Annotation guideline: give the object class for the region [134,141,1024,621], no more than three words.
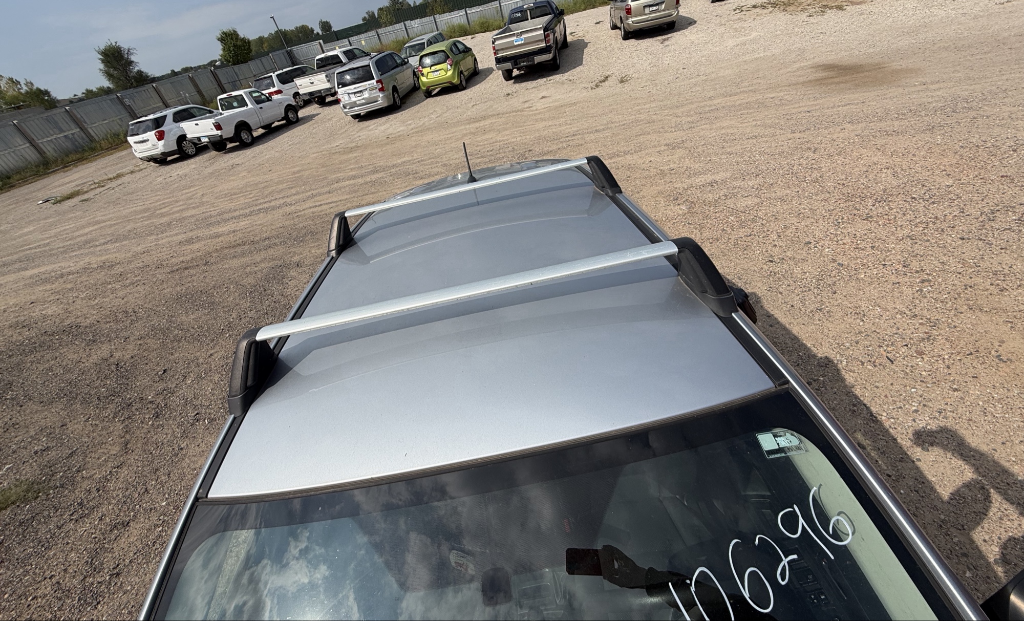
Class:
car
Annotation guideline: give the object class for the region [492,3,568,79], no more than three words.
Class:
truck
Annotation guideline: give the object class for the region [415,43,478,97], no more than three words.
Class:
car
